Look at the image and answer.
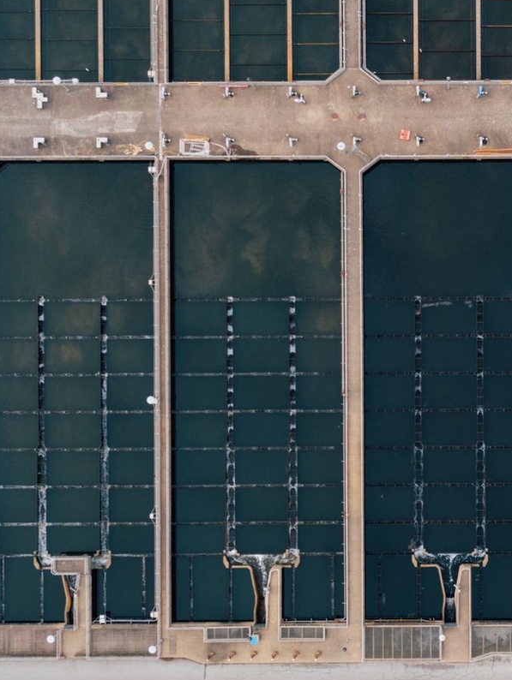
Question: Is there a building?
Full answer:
No, no building is visible in the view.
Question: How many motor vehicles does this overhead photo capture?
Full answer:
The picture shows no motor vehicles.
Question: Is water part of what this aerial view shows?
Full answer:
Yes, there's water in this view.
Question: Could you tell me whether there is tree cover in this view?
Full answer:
No, tree cover can't be seen anywhere here.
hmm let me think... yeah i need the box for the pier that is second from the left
[267,566,284,627]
